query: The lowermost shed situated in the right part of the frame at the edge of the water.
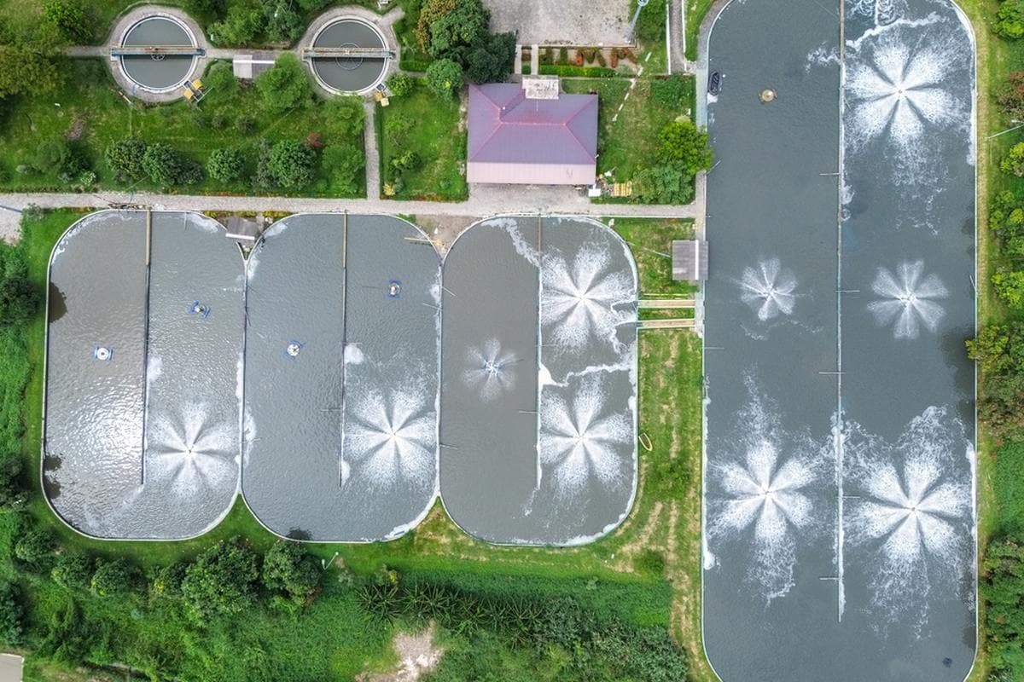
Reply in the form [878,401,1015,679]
[669,238,708,281]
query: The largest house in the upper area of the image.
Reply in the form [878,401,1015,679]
[467,75,600,189]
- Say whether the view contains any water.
Yes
